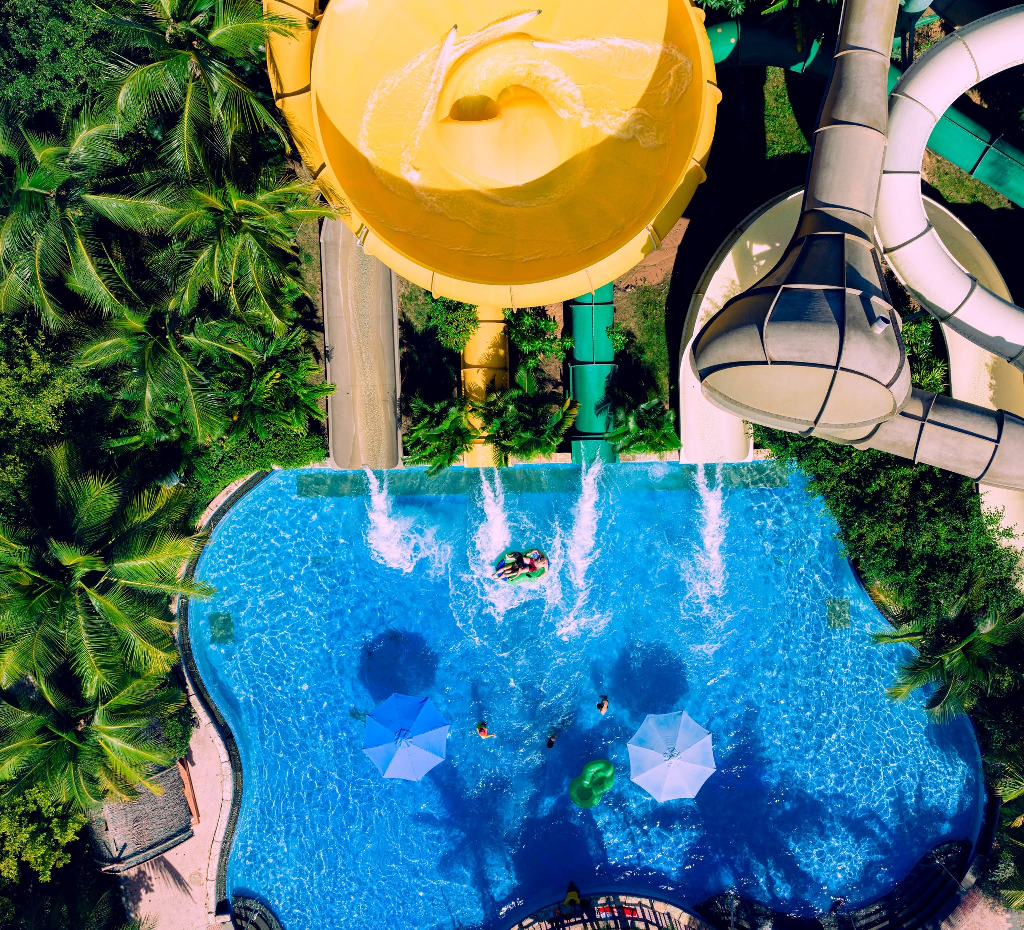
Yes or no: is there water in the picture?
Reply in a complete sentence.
Yes, the picture does contain water.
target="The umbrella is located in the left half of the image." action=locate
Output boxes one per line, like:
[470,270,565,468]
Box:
[364,692,451,781]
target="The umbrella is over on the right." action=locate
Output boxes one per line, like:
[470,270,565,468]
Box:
[625,710,717,804]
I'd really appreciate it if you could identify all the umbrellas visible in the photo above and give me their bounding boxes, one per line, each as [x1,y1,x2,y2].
[625,710,717,804]
[364,692,451,781]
